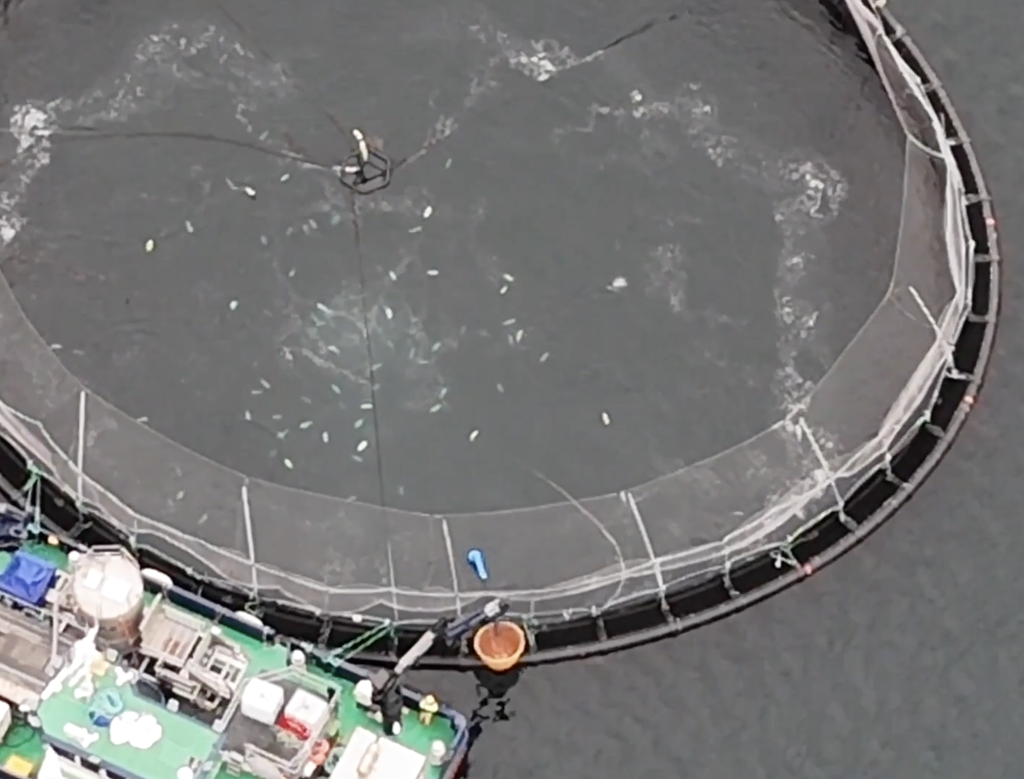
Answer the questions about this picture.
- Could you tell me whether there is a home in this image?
No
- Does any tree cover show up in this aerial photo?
No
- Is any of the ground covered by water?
Yes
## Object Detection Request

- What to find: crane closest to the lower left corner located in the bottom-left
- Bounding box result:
[42,622,105,699]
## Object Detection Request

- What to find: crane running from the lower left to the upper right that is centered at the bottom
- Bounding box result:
[355,595,511,739]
